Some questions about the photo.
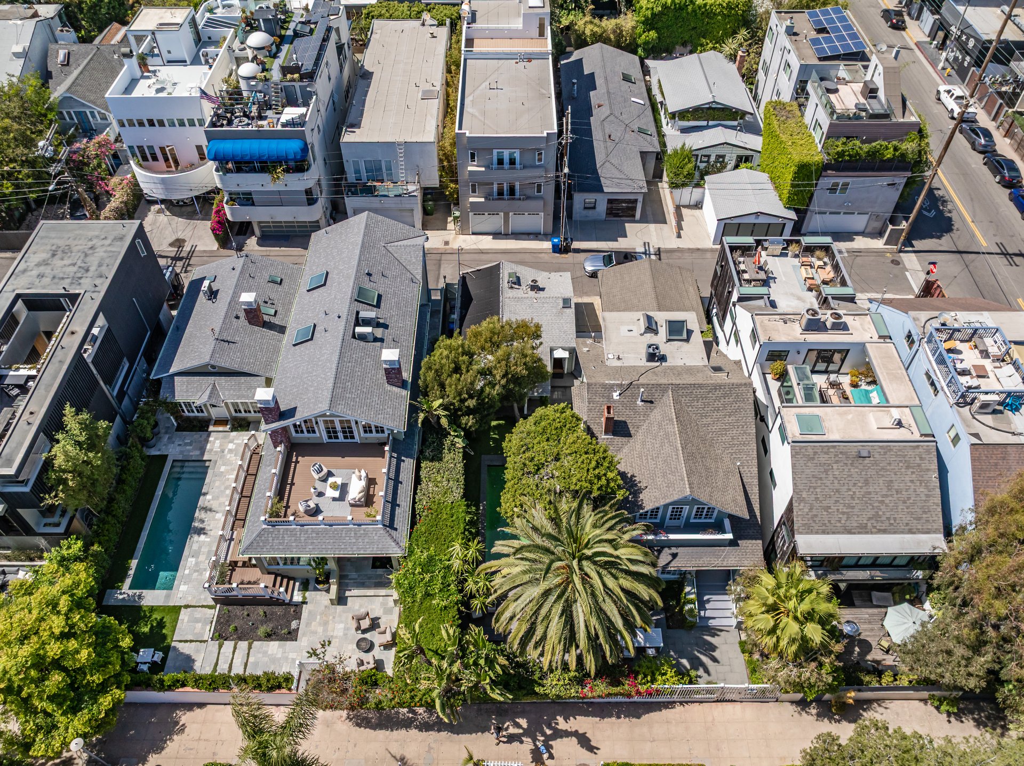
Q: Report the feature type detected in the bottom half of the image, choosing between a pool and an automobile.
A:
pool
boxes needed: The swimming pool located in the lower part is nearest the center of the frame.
[479,468,544,582]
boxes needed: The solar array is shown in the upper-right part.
[803,9,879,51]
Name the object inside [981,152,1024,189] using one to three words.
car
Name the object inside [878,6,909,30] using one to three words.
car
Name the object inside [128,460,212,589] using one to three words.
swimming pool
